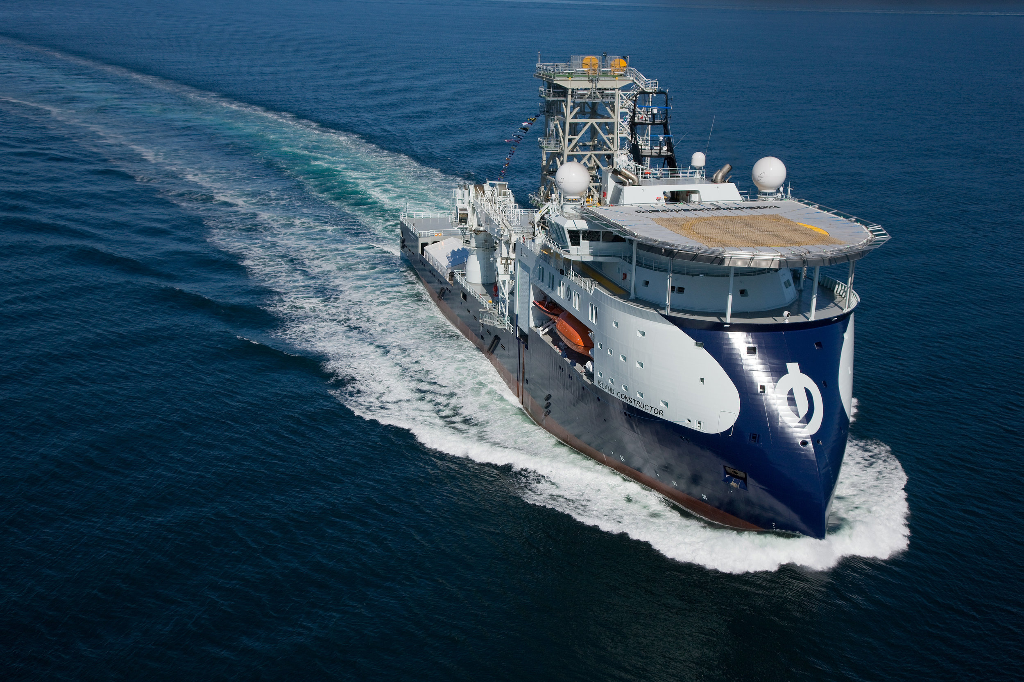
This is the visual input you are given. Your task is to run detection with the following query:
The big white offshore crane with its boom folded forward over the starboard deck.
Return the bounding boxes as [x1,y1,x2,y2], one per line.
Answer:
[450,180,520,298]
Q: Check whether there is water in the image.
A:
Yes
